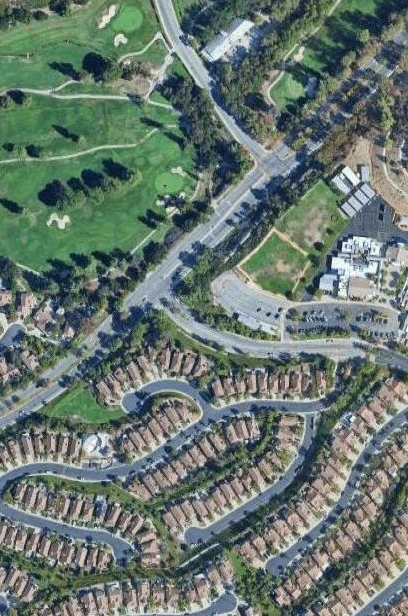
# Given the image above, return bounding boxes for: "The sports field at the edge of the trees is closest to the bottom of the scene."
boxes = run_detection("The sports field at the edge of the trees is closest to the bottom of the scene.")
[239,230,308,295]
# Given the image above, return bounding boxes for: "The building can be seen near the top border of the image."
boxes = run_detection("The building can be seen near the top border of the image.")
[203,17,254,61]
